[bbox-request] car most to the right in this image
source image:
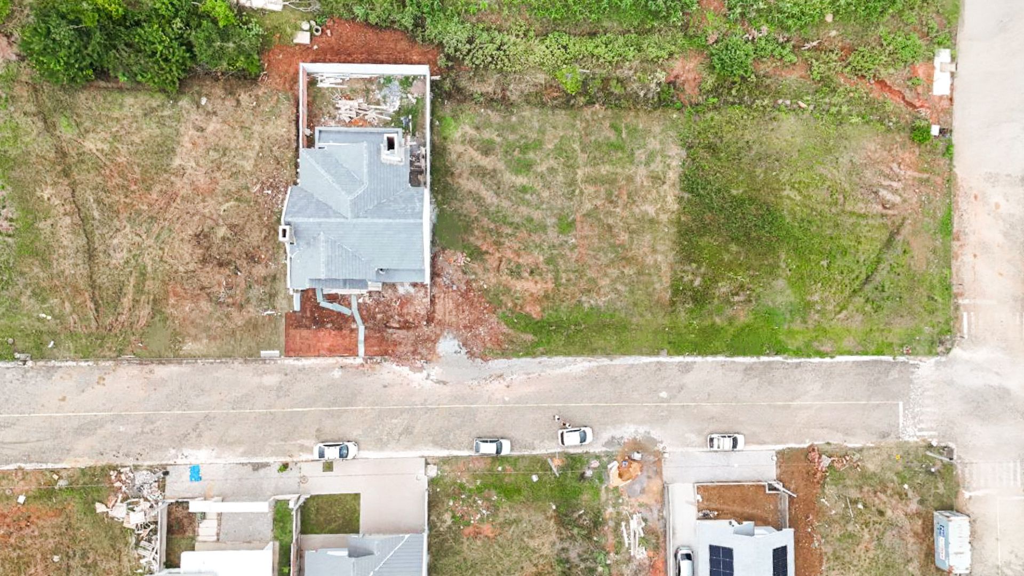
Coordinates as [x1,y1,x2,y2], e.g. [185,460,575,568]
[709,434,746,455]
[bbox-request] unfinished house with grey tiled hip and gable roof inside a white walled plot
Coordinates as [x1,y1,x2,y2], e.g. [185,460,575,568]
[279,127,430,293]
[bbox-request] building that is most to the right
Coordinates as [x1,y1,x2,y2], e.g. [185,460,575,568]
[694,519,796,576]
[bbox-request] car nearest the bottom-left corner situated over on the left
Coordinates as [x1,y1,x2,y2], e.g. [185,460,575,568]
[312,442,356,463]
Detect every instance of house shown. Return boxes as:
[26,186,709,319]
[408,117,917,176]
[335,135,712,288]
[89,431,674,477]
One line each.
[158,540,279,576]
[279,127,430,293]
[694,519,796,576]
[293,533,424,576]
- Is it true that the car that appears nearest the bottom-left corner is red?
No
